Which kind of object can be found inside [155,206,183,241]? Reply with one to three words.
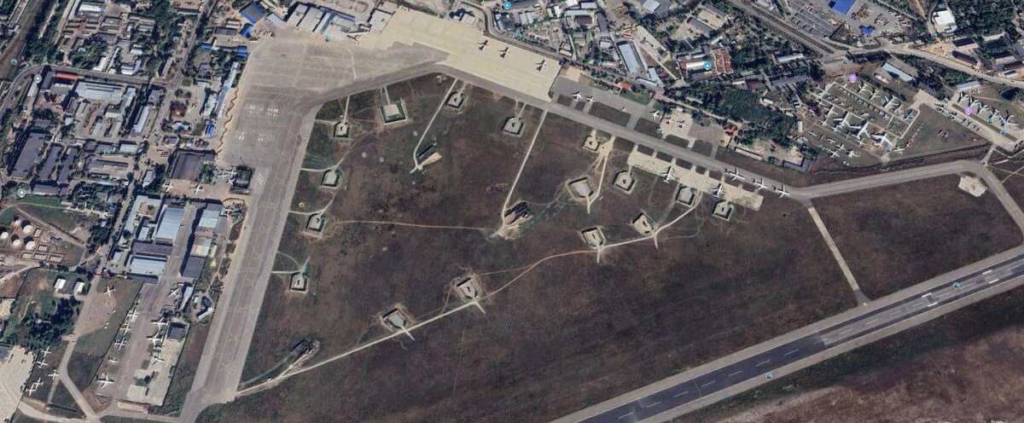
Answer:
hangar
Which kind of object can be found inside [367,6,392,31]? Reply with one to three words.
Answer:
building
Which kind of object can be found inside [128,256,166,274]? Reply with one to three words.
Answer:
hangar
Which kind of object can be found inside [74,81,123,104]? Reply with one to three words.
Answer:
building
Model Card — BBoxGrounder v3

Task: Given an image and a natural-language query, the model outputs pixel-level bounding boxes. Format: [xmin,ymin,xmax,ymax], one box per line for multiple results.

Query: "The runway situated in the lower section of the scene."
[550,245,1024,423]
